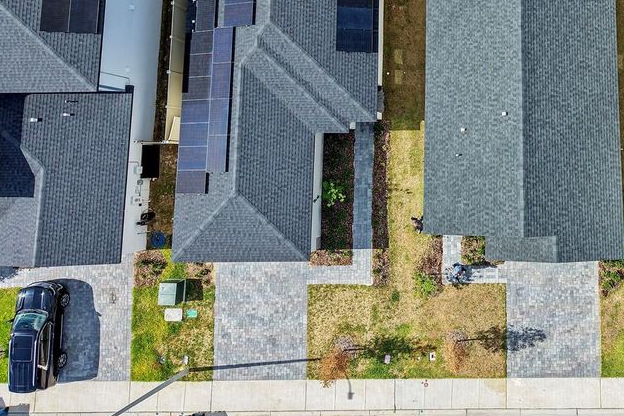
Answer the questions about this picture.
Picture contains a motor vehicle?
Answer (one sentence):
Yes, the image includes a motor vehicle.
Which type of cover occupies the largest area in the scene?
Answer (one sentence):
The scene is dominated by buildings.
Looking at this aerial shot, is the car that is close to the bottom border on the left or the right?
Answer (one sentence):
The car that is close to the bottom border sits on the left side.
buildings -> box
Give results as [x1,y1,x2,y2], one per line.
[172,0,385,262]
[424,0,624,264]
[0,0,160,271]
